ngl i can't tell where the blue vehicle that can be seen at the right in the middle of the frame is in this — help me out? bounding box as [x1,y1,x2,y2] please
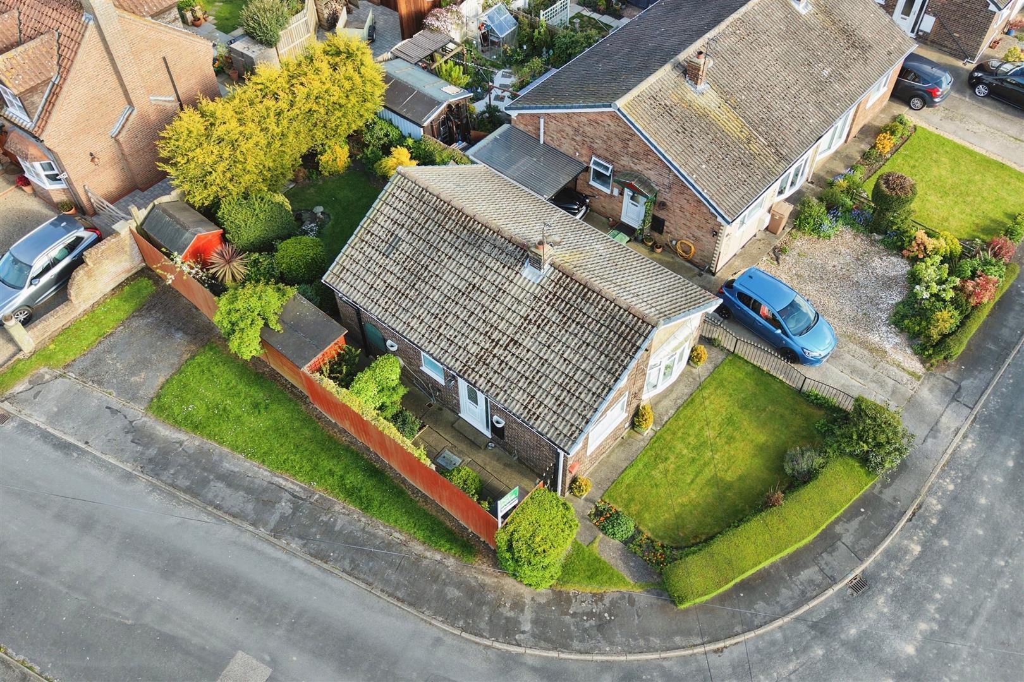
[716,273,835,366]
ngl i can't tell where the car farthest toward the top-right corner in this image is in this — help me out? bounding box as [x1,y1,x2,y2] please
[967,59,1024,108]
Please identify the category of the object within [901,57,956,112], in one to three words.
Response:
car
